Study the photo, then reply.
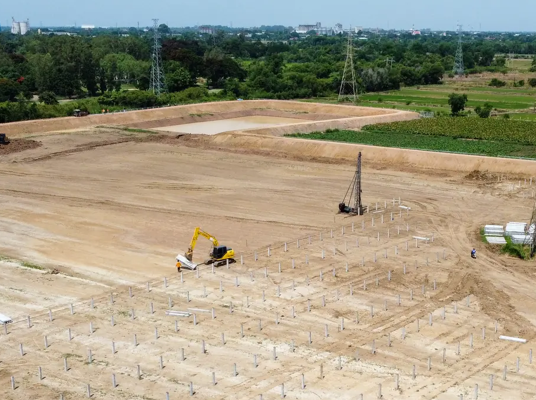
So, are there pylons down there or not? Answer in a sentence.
Yes, a pylon appears in the view.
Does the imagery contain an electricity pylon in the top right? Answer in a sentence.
Yes, the scene does show an electricity pylon in the top right.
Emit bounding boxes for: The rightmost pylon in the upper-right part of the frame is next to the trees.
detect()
[450,21,467,76]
